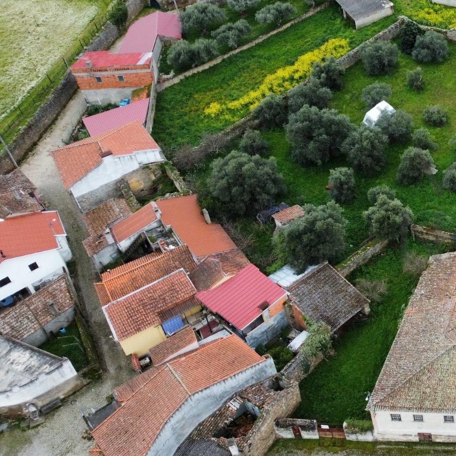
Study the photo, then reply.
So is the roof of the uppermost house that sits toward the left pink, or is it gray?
pink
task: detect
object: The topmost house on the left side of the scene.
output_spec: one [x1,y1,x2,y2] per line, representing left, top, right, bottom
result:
[119,11,182,62]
